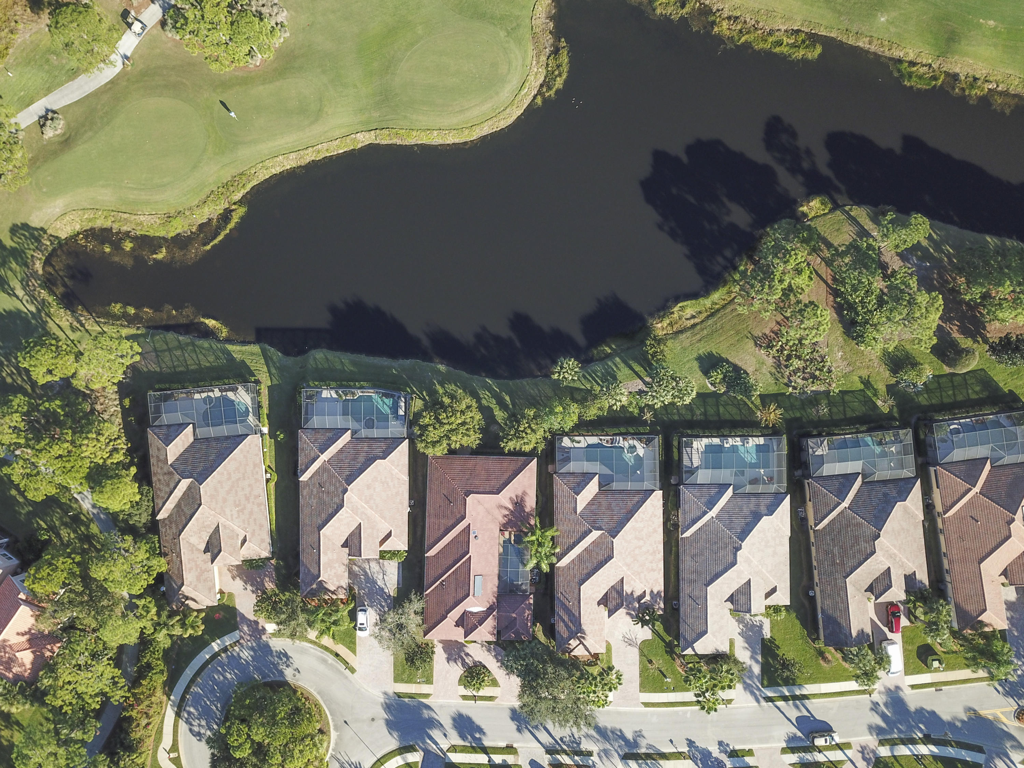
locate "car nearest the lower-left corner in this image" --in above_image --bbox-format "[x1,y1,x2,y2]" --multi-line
[355,608,369,638]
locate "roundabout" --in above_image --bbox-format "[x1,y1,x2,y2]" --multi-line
[217,676,336,768]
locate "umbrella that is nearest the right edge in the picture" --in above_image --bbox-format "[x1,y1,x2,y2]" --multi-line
[813,440,833,460]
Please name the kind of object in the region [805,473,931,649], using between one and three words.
house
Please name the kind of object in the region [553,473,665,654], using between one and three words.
house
